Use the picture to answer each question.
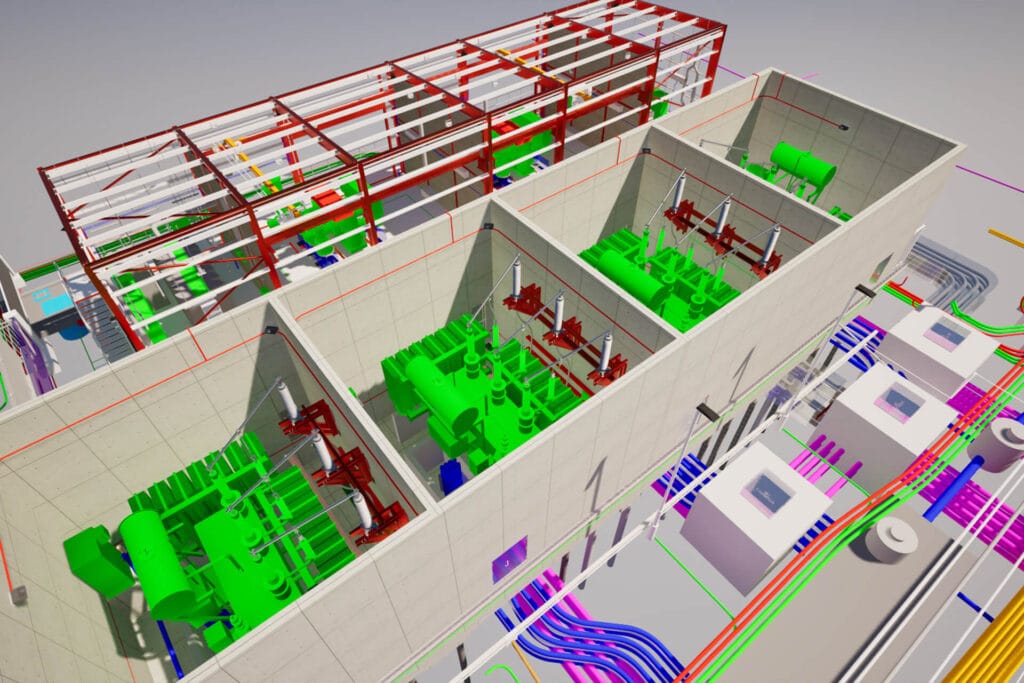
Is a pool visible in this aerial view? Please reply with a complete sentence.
No, the scene contains no pool.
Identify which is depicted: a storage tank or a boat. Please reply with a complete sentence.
Of the two, only a storage tank appears.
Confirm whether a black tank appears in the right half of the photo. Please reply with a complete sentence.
No, in the right half of the photo there is no black tank.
